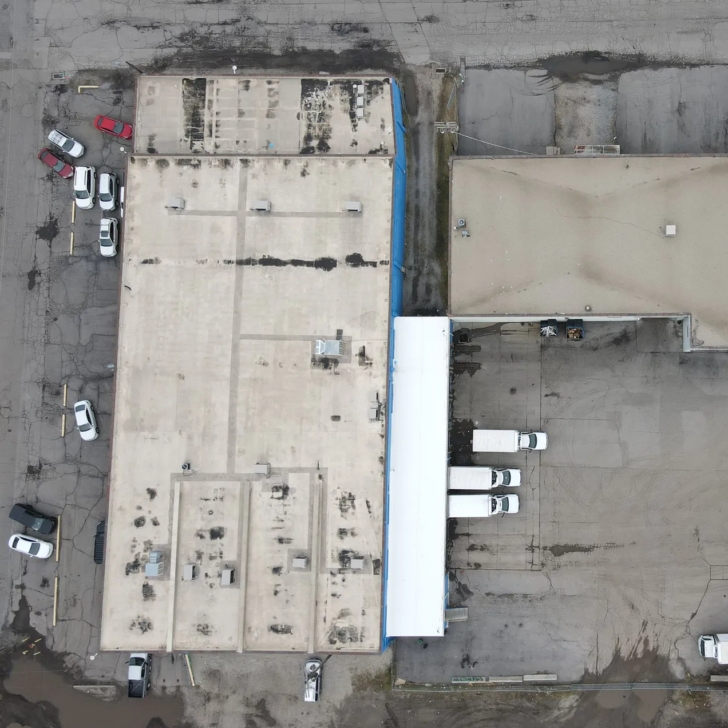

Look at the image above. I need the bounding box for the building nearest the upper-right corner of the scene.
[449,155,728,353]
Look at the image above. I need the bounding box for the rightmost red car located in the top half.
[93,114,134,141]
